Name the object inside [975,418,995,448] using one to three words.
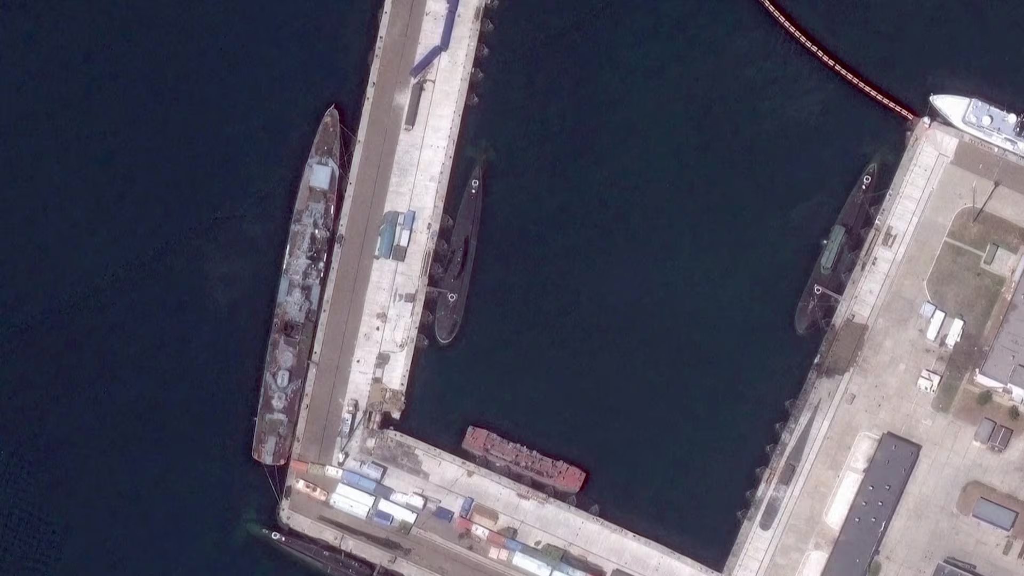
building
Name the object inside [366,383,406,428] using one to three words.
shed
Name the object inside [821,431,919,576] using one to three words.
building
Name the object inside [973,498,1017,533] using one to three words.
house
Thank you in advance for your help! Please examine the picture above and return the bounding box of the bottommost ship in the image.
[260,528,391,576]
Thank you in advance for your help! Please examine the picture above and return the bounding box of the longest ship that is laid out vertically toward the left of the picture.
[252,103,340,466]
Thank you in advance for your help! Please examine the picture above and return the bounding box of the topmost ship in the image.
[929,94,1024,159]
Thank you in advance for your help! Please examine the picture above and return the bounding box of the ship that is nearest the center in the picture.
[436,167,480,345]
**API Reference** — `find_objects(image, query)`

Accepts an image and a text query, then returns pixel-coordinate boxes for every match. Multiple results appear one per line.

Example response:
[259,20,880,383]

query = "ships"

[929,94,1024,159]
[795,165,875,336]
[260,528,391,576]
[463,425,586,493]
[436,167,480,345]
[252,103,340,466]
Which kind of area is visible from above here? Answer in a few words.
port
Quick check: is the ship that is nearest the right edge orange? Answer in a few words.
No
